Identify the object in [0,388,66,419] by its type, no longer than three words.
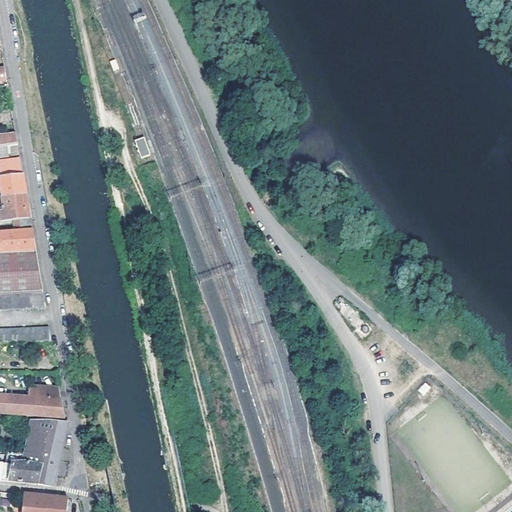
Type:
house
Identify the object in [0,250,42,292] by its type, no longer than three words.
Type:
building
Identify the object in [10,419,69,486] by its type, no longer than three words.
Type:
building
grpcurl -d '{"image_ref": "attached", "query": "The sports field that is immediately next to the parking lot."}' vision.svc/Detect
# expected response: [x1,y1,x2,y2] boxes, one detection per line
[396,396,511,512]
